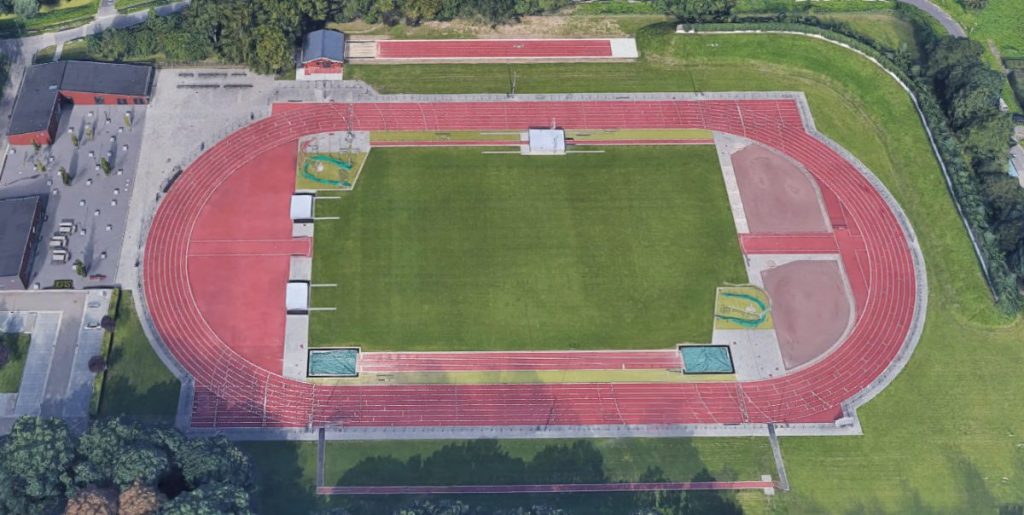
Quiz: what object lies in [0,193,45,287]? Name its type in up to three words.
building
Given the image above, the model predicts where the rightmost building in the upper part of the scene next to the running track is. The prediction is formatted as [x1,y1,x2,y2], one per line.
[298,30,347,76]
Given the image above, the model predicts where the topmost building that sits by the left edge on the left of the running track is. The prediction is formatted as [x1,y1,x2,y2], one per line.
[6,59,155,145]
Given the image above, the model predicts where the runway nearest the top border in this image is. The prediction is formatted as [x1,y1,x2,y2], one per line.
[377,37,639,59]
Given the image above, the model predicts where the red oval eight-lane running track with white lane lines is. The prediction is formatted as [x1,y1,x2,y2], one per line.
[141,101,913,427]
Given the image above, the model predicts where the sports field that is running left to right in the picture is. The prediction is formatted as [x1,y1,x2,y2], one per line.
[296,142,749,352]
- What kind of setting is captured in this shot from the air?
sports ground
